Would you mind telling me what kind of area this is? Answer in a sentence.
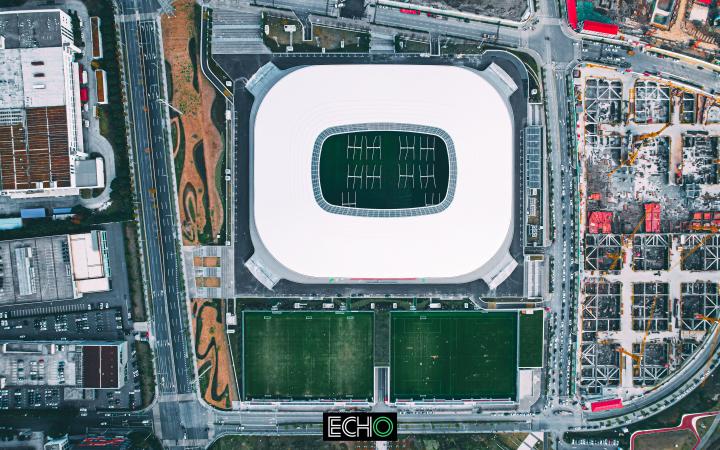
The picture captures a sports ground.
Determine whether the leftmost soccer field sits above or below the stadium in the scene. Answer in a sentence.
Looking at the scene, the leftmost soccer field is located below the stadium.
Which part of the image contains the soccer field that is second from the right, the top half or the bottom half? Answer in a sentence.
The soccer field that is second from the right is in the bottom half of the image.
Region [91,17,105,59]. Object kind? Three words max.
shed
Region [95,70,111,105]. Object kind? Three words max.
shed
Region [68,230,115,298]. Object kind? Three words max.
building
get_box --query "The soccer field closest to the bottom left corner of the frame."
[242,311,374,401]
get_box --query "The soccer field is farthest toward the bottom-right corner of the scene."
[519,310,544,368]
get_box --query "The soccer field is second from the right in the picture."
[390,311,520,401]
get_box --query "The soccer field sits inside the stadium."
[322,131,447,209]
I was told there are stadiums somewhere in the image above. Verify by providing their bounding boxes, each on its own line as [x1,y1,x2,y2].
[245,62,518,290]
